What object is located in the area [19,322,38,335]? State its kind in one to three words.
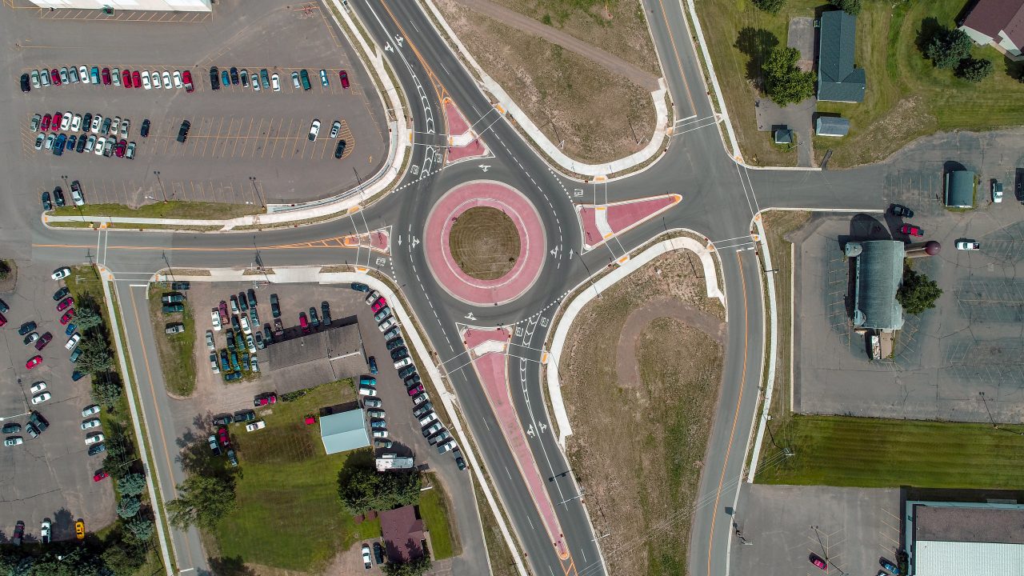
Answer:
vehicle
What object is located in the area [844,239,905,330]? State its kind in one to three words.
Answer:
barn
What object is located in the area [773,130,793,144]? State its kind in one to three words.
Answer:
gazebo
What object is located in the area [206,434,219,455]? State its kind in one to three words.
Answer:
vehicle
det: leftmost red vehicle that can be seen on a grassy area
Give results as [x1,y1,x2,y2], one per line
[218,426,231,448]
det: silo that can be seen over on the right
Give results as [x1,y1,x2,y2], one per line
[905,240,943,259]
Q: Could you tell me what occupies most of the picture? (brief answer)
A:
paved ground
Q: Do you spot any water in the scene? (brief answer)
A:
No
